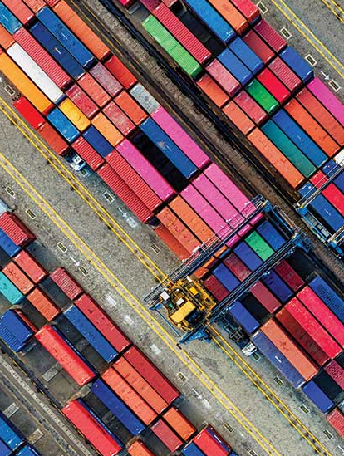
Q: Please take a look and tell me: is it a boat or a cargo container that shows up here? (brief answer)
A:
cargo container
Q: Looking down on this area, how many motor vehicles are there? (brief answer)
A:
two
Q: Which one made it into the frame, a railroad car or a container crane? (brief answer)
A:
container crane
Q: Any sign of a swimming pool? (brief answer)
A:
No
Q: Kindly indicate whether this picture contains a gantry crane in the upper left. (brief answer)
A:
No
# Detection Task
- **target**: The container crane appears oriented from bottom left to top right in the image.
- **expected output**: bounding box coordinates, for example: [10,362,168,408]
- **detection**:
[130,186,310,348]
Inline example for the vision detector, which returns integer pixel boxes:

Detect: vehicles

[64,148,87,171]
[215,307,259,356]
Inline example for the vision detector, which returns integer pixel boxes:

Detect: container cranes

[130,186,310,348]
[290,153,344,255]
